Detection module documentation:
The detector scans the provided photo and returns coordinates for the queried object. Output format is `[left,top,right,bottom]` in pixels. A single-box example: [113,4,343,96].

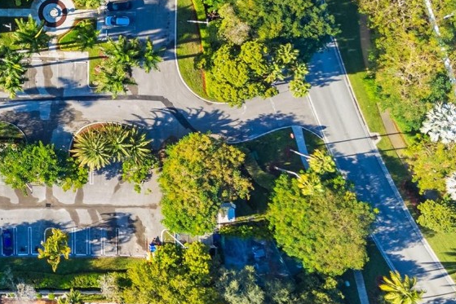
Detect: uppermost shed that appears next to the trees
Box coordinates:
[220,207,242,229]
